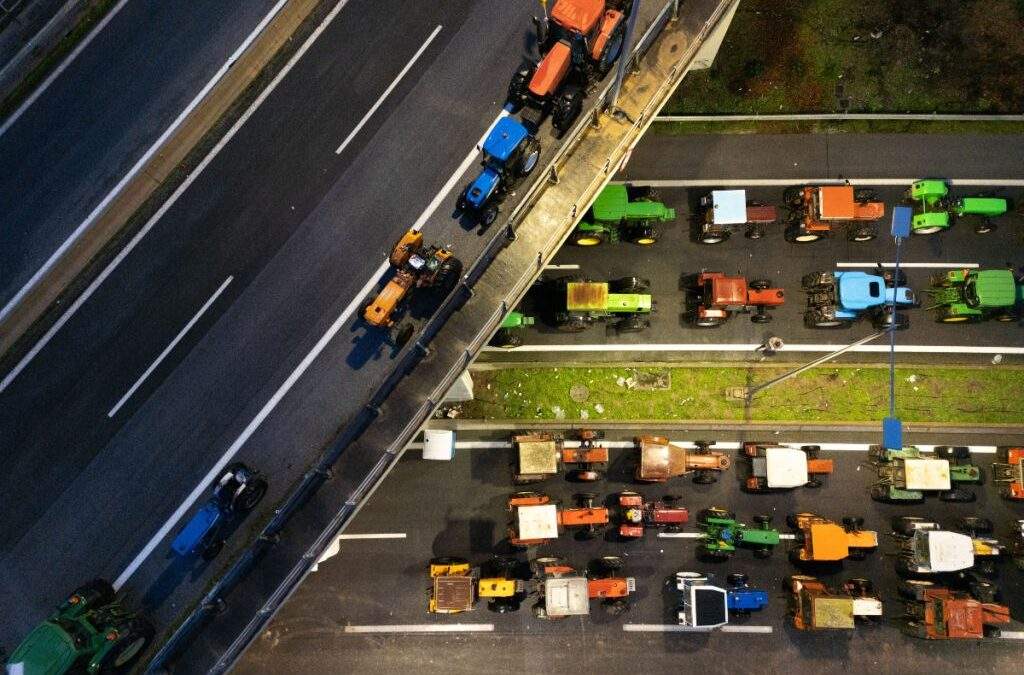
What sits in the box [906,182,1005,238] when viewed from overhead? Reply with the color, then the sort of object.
green work vehicle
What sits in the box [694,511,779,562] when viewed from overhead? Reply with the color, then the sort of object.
green work vehicle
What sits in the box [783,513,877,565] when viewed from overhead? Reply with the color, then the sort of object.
orange work vehicle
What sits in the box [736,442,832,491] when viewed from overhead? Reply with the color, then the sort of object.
white work vehicle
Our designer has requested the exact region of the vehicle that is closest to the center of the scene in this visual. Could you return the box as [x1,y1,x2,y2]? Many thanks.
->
[496,305,528,346]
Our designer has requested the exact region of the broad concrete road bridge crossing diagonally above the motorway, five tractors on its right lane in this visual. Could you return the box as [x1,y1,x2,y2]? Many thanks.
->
[0,0,743,675]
